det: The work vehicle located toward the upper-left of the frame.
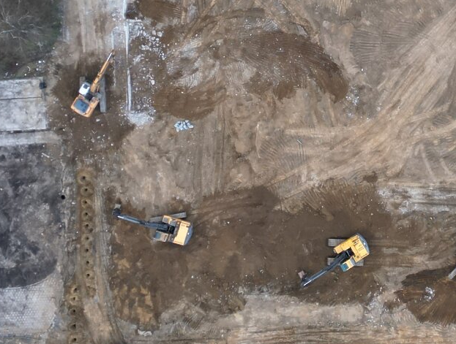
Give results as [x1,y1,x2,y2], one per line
[66,42,124,120]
